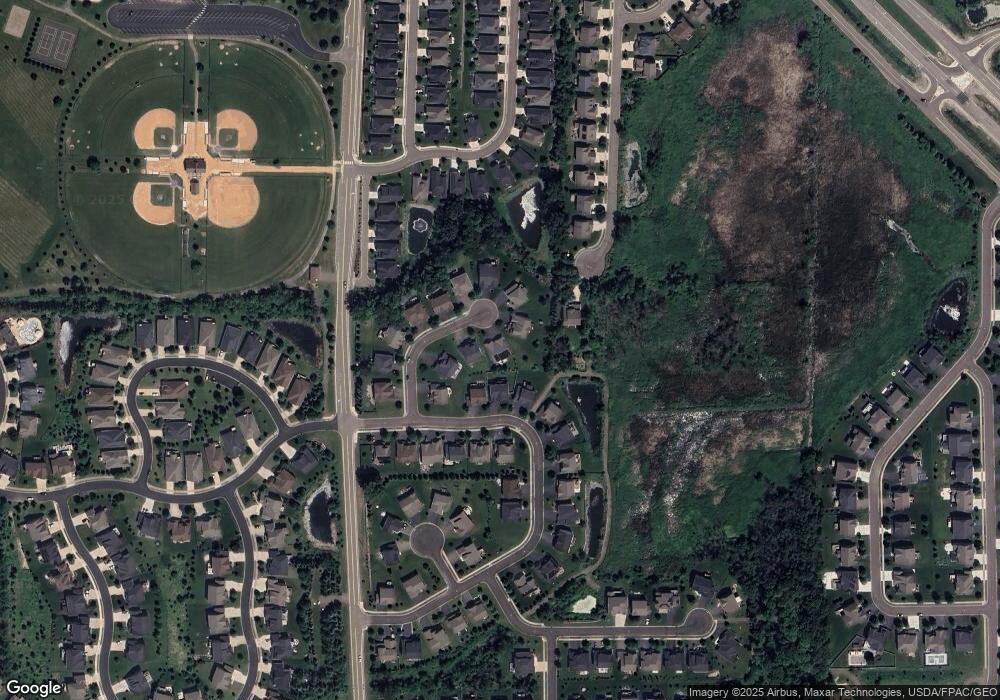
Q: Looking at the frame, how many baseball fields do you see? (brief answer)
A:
4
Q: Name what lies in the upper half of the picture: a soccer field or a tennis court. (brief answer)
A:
tennis court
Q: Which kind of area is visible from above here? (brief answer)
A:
residential area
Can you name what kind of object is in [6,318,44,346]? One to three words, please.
swimming pool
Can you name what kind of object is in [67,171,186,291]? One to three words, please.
baseball field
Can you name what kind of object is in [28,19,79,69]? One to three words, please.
tennis court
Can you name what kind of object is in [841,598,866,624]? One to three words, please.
house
